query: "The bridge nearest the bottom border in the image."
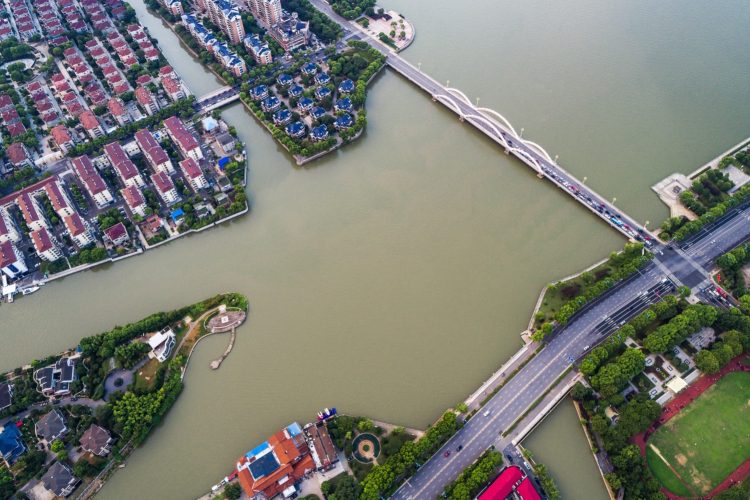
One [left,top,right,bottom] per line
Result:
[464,343,585,449]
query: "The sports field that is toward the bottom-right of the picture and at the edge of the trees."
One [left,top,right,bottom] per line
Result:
[635,351,750,500]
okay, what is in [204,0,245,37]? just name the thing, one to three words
building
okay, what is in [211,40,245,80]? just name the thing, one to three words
building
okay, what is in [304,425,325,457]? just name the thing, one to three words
house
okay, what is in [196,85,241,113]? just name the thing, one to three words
bridge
